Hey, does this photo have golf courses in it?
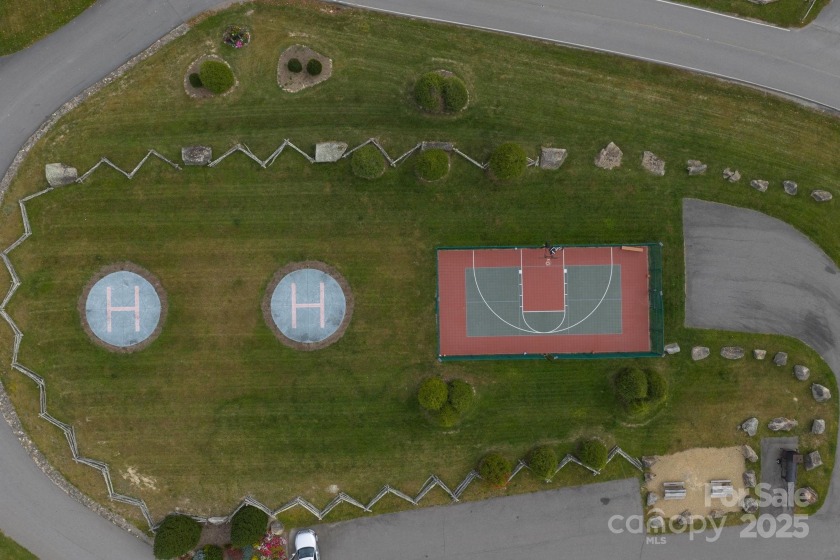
No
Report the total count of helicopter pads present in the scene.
2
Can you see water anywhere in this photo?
No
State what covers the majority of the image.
grass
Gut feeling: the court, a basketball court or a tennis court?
basketball court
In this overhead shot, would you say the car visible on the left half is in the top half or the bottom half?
bottom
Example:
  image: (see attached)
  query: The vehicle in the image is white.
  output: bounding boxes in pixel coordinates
[285,528,318,560]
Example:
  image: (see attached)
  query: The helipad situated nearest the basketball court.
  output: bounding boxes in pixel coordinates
[262,262,354,351]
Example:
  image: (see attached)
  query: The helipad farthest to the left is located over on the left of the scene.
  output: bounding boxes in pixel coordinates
[78,264,168,353]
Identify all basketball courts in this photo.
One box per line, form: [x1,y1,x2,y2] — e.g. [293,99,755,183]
[439,245,651,356]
